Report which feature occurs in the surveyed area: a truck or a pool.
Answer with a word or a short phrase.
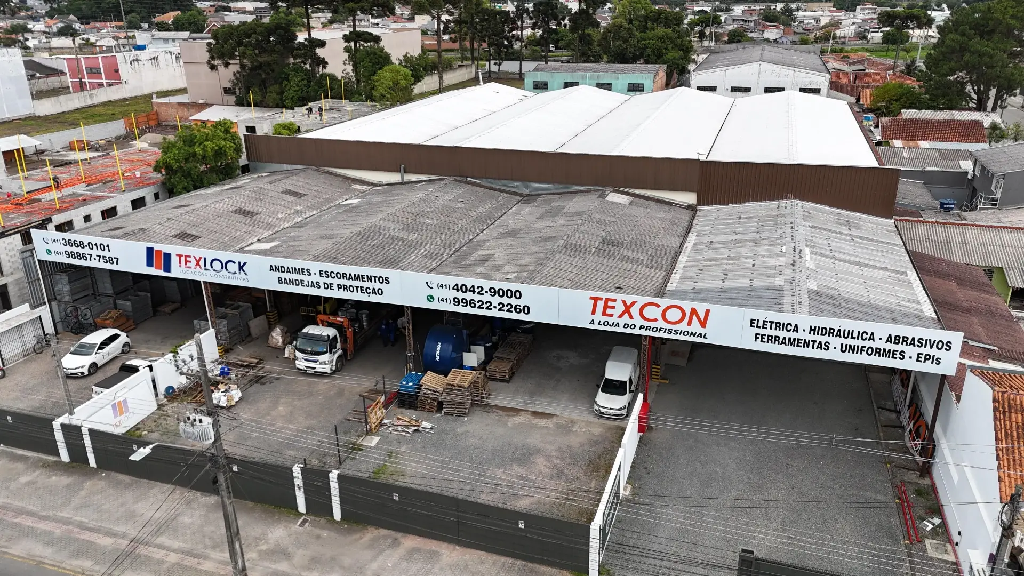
truck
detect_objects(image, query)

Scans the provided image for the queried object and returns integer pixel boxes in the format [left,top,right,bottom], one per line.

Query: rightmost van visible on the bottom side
[591,348,637,416]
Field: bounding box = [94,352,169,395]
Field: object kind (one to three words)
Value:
truck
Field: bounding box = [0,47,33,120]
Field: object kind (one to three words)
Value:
building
